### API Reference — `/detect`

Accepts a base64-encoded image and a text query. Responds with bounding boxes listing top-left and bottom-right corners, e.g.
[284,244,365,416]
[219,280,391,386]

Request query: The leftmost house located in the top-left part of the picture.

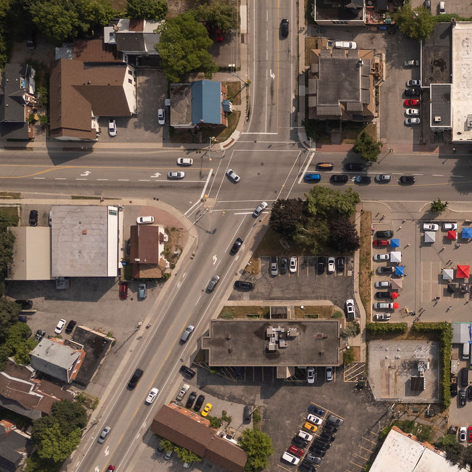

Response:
[0,62,41,142]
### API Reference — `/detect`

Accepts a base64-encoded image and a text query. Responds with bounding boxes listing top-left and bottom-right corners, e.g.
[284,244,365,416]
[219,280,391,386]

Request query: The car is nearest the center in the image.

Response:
[230,237,243,253]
